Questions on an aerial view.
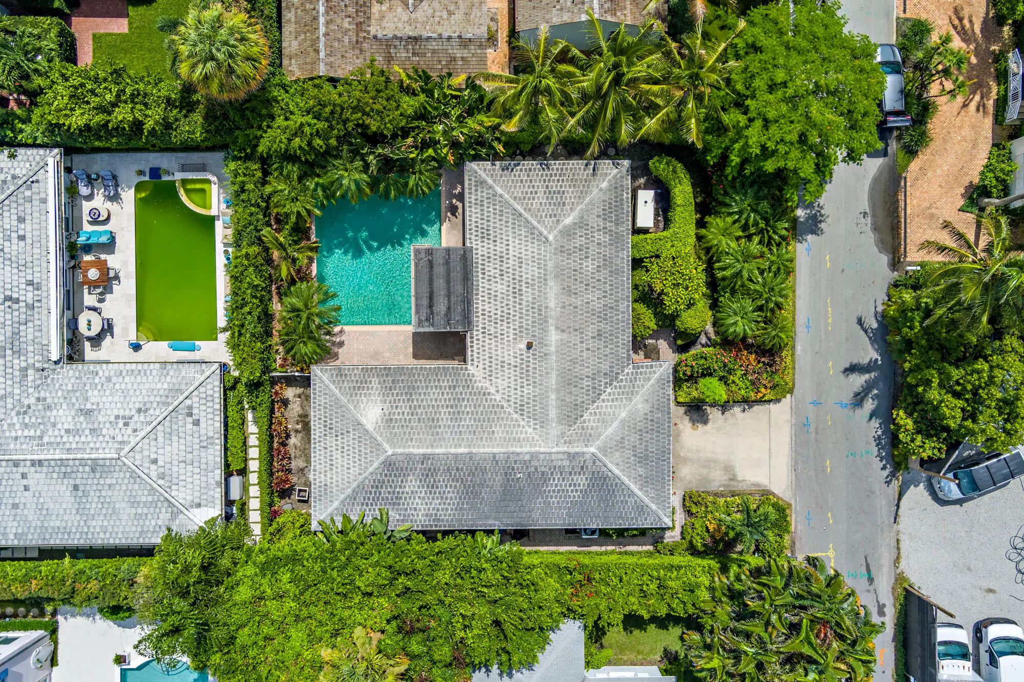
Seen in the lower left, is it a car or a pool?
pool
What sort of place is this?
residential area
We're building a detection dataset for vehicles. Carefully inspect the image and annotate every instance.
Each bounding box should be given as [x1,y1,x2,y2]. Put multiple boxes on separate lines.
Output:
[937,618,974,682]
[927,454,1021,507]
[863,44,906,128]
[980,617,1024,682]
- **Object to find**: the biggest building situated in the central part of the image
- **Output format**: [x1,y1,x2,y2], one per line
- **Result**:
[309,159,673,530]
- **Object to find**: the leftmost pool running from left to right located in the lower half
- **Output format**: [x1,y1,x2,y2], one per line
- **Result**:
[121,660,208,682]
